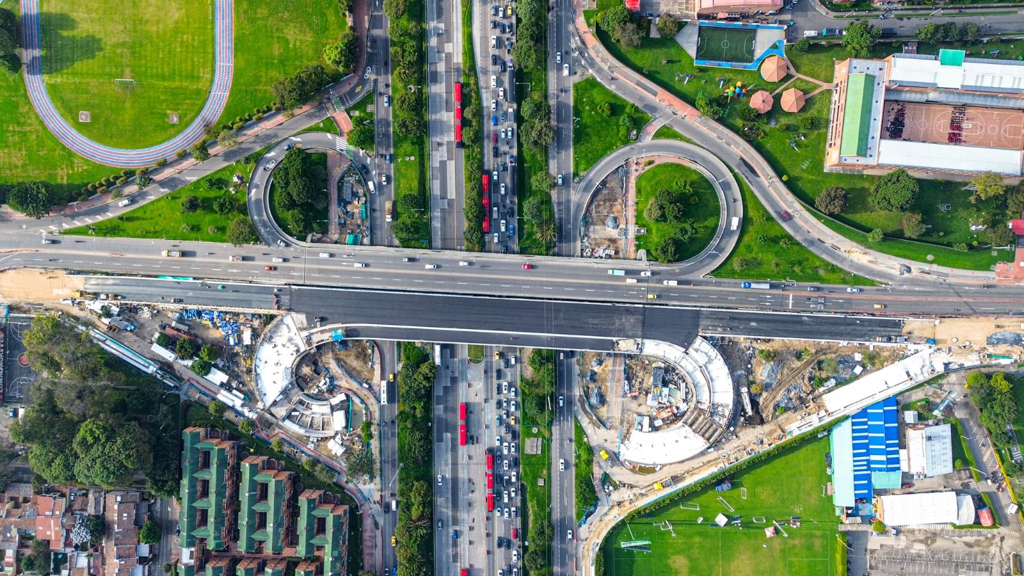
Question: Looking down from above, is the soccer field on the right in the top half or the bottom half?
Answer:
bottom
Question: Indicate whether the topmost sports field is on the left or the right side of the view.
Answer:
left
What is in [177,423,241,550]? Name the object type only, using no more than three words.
building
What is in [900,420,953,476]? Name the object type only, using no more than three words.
building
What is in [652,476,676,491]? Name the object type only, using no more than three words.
vehicle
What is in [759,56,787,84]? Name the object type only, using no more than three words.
gazebo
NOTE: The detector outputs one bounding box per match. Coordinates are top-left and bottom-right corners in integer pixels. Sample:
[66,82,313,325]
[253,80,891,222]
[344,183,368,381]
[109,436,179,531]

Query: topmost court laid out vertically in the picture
[0,317,42,404]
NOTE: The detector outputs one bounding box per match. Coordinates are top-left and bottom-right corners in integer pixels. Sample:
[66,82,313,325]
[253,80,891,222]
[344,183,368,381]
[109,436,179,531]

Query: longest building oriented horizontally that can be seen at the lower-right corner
[870,488,974,526]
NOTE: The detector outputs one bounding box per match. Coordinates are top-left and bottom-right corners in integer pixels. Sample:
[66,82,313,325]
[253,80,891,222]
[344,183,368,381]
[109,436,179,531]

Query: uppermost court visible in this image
[679,20,785,71]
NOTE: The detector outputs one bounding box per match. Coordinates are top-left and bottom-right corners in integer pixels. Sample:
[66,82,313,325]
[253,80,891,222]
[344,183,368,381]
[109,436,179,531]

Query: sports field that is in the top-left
[39,0,215,149]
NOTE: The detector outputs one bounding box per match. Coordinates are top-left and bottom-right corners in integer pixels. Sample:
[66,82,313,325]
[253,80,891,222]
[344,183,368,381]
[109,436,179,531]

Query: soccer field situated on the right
[595,429,838,576]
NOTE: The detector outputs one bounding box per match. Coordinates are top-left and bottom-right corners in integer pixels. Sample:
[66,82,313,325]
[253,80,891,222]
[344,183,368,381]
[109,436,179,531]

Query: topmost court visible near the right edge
[881,101,1024,150]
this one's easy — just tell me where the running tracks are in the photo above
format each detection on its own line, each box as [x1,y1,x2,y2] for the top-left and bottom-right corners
[20,0,234,168]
